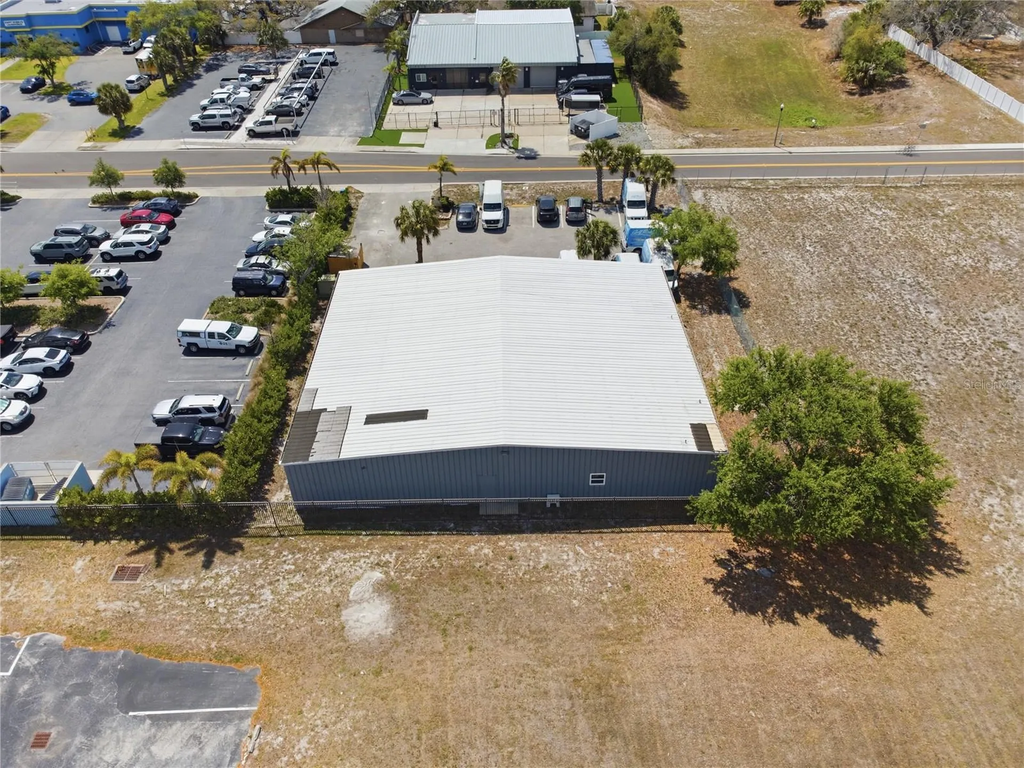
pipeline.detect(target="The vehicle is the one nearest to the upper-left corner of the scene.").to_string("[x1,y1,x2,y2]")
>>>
[17,76,56,91]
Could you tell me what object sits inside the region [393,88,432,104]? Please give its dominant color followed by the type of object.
gray car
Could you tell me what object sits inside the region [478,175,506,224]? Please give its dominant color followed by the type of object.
white van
